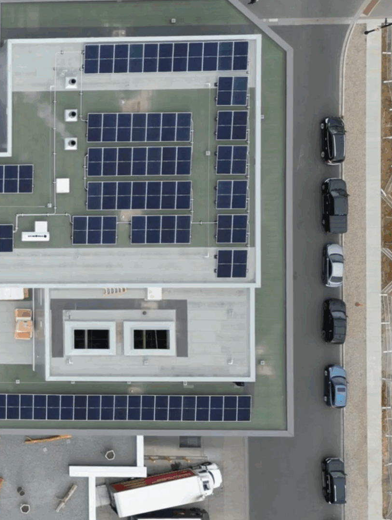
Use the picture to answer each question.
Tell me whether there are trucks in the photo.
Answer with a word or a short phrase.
Yes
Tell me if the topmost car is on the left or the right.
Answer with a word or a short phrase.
right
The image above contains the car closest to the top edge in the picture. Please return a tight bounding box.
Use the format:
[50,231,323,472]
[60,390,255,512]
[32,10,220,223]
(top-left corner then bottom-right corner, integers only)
[320,117,348,164]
